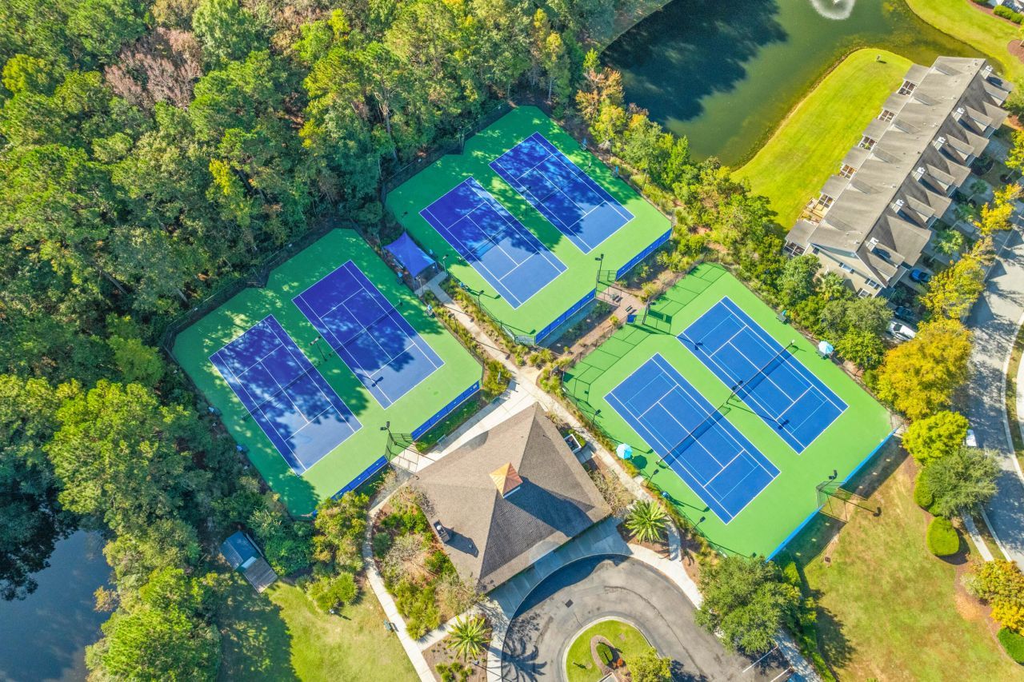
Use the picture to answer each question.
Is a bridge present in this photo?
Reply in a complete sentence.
No, I can see no bridge in this picture.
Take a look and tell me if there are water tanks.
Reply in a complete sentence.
No, the scene contains no water tank.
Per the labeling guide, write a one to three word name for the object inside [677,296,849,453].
tennis court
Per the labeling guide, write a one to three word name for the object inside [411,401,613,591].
building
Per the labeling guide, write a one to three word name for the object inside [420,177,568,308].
tennis court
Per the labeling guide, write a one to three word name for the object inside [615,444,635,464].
umbrella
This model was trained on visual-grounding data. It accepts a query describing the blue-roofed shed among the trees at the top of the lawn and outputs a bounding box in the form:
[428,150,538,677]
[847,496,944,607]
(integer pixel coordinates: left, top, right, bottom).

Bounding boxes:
[220,531,258,571]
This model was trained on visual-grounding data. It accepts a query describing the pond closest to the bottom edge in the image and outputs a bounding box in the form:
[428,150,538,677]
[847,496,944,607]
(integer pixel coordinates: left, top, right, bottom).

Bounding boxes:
[0,490,116,682]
